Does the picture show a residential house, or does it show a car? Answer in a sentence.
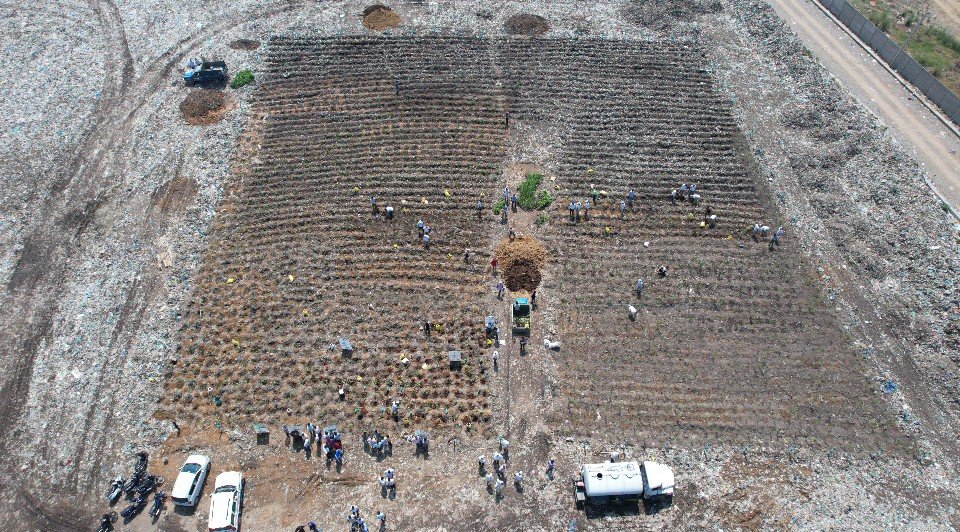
I can see a car in this picture.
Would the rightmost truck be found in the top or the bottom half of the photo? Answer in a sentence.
Seen from above, the rightmost truck lies in the bottom half of the view.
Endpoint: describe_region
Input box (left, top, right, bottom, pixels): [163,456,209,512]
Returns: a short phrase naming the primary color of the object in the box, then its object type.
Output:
white car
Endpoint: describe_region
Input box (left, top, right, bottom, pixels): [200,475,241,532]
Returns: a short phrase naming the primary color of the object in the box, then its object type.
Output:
white car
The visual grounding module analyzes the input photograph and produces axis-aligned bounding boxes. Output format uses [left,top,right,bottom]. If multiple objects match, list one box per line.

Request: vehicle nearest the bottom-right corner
[574,458,677,505]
